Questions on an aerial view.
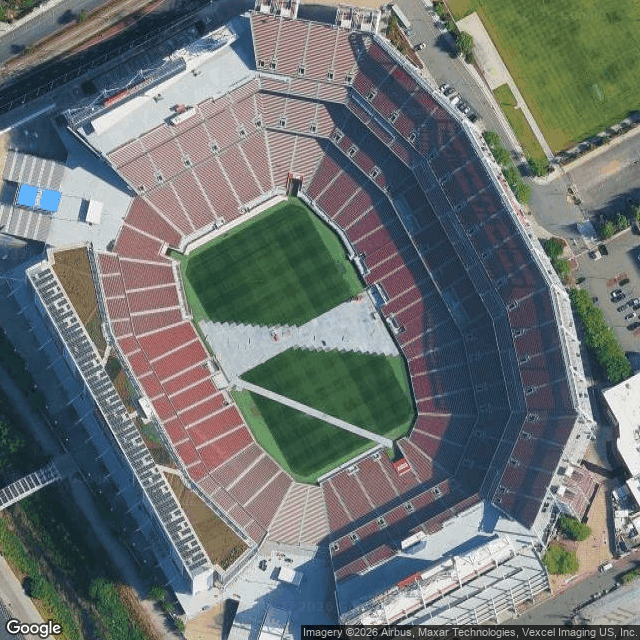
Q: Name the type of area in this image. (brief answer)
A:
sports ground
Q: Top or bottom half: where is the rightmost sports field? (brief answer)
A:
top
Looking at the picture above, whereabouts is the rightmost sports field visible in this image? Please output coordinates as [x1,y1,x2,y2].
[481,0,640,141]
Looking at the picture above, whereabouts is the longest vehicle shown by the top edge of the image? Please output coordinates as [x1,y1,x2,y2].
[392,6,413,34]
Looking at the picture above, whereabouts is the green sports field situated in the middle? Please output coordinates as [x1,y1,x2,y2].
[188,200,413,476]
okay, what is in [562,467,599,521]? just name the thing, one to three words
building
